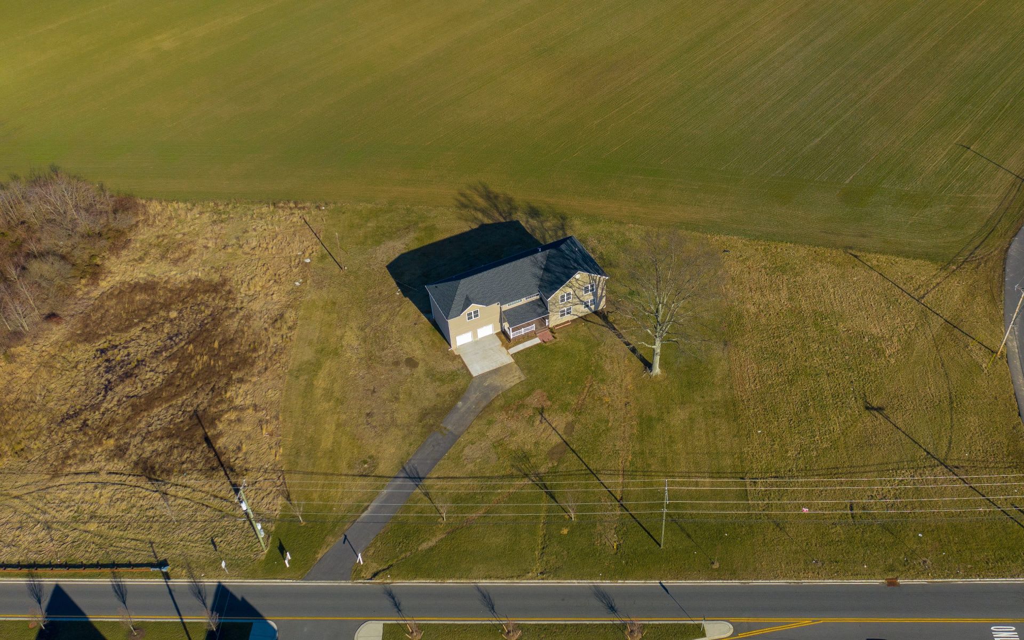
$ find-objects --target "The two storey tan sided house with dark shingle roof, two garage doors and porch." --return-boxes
[425,235,610,352]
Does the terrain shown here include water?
No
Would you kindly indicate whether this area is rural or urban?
rural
